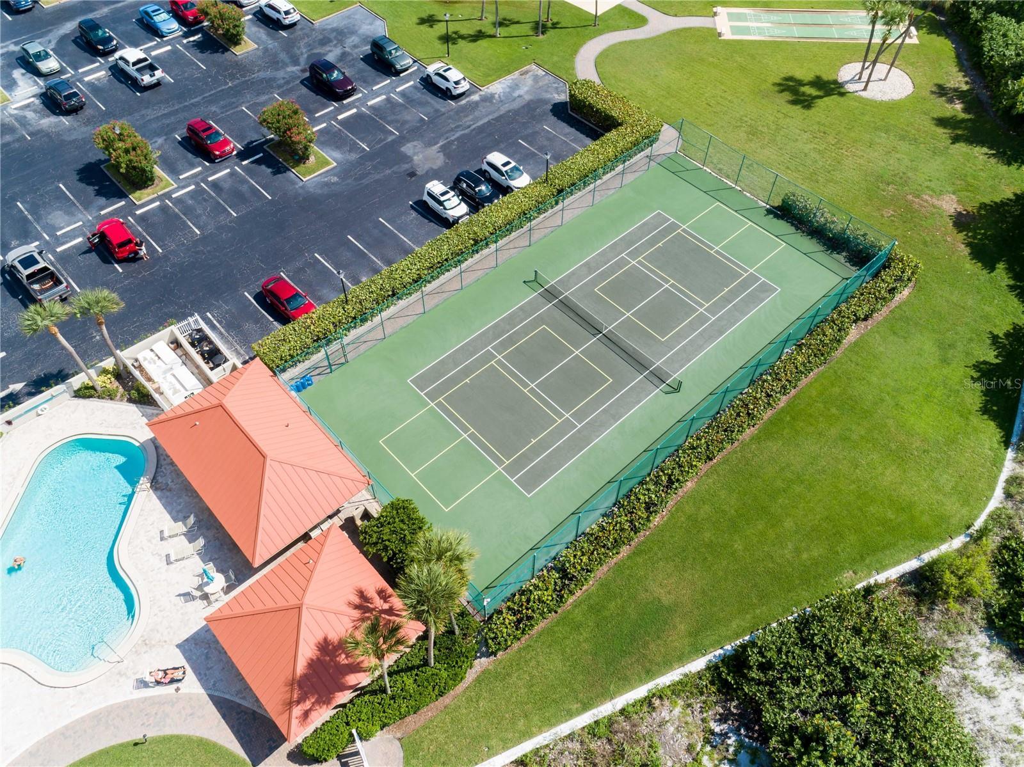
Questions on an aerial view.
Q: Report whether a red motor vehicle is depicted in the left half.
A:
Yes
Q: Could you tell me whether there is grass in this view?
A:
Yes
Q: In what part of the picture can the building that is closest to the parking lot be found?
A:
left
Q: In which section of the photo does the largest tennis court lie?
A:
center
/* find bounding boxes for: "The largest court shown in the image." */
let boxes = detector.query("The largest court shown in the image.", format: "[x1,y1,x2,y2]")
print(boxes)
[294,151,866,622]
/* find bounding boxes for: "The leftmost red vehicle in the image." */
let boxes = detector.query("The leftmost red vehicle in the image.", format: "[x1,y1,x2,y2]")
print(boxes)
[88,218,146,258]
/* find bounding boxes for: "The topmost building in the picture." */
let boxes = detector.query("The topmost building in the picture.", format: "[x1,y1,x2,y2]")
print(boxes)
[146,356,371,571]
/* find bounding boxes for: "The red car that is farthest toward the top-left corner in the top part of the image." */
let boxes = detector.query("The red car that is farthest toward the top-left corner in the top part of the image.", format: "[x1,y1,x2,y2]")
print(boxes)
[165,0,204,24]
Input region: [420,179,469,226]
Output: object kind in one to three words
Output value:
car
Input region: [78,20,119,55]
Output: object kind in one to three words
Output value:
car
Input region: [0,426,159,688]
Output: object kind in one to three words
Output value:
swimming pool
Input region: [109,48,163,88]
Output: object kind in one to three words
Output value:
truck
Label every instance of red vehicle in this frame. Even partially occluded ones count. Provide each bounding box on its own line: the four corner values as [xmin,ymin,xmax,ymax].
[259,275,314,325]
[88,218,146,258]
[165,0,204,24]
[187,119,235,163]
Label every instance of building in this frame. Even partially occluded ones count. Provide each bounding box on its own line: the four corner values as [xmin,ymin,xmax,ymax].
[146,356,371,571]
[203,522,419,745]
